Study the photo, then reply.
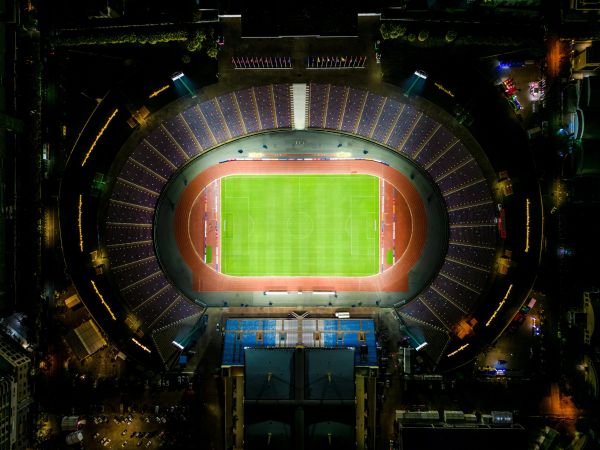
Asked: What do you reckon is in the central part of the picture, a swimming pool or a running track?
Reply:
running track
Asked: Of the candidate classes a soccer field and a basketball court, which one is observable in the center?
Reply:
soccer field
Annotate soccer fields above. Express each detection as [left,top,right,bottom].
[221,175,380,276]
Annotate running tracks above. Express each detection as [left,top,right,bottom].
[175,154,427,291]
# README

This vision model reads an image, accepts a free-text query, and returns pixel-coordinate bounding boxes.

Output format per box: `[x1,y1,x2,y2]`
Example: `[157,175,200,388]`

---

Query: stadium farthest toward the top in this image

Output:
[99,76,502,370]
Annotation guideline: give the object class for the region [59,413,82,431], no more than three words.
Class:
hangar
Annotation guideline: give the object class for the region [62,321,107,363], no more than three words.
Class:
building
